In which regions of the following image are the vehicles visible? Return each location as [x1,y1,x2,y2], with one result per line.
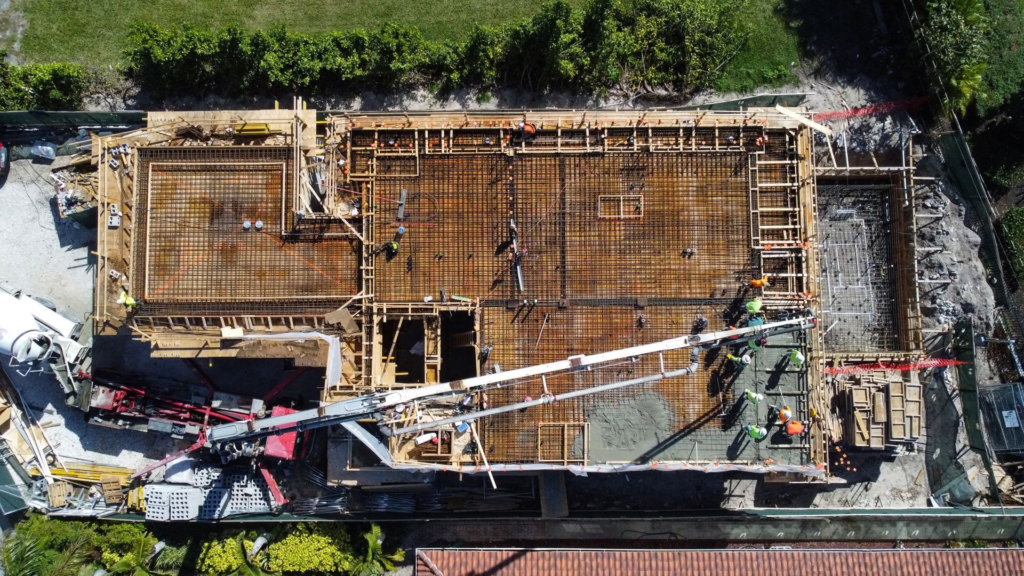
[0,277,95,398]
[0,142,12,181]
[65,358,322,506]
